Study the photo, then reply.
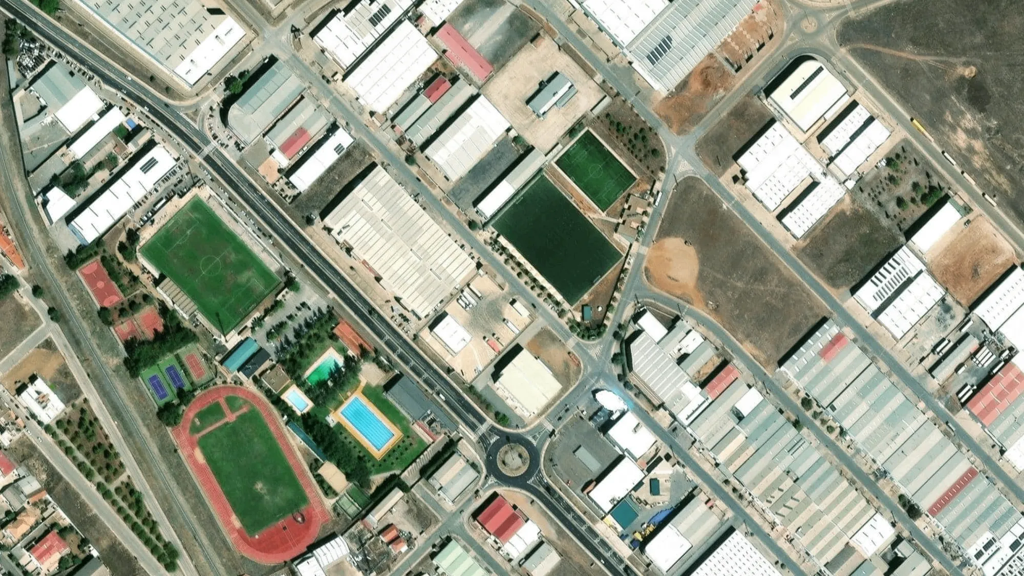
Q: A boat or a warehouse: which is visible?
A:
warehouse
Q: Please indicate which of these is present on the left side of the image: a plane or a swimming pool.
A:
swimming pool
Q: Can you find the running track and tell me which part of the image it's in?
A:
bottom left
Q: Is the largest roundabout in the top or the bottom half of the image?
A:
bottom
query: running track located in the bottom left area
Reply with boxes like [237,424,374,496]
[171,384,329,565]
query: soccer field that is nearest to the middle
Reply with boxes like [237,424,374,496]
[485,170,628,312]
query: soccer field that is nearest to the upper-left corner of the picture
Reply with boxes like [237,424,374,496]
[132,187,286,340]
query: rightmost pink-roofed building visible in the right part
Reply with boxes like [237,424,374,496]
[965,363,1024,428]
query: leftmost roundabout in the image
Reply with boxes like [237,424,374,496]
[486,433,539,486]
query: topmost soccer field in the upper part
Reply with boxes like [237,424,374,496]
[550,126,641,215]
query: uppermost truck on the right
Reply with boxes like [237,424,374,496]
[912,119,936,144]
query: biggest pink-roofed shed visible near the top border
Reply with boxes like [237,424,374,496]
[434,23,493,82]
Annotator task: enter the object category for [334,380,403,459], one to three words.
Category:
swimming pool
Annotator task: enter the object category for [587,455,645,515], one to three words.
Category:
building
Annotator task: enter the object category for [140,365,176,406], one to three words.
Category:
tennis court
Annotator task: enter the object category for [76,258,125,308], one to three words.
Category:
sports court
